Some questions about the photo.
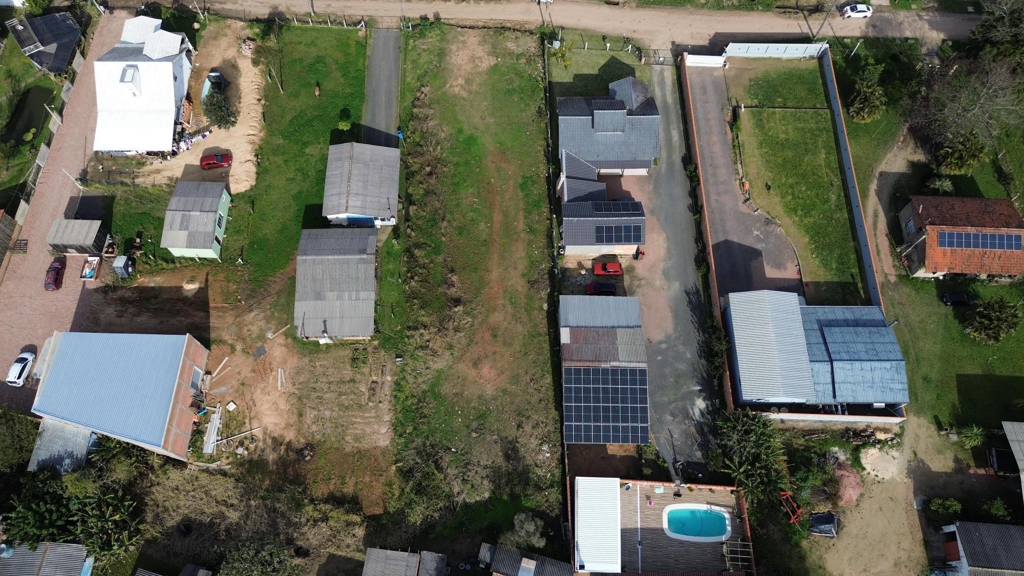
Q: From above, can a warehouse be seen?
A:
Yes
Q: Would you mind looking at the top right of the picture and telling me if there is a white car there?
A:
Yes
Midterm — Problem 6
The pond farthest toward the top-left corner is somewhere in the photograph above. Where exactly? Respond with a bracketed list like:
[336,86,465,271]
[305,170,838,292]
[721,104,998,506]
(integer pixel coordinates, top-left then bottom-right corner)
[4,86,52,145]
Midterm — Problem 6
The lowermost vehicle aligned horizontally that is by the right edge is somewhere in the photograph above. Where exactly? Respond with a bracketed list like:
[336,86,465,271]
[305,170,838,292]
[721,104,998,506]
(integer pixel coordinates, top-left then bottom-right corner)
[940,290,979,308]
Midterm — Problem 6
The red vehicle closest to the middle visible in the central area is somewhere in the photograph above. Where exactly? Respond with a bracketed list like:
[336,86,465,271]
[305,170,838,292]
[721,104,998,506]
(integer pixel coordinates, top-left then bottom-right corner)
[593,260,624,277]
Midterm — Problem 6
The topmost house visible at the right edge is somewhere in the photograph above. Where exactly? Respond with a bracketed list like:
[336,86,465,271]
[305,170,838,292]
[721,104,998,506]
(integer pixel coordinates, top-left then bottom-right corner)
[899,195,1024,284]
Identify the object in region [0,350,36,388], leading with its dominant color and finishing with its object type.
white car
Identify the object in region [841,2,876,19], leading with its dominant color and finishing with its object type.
white car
